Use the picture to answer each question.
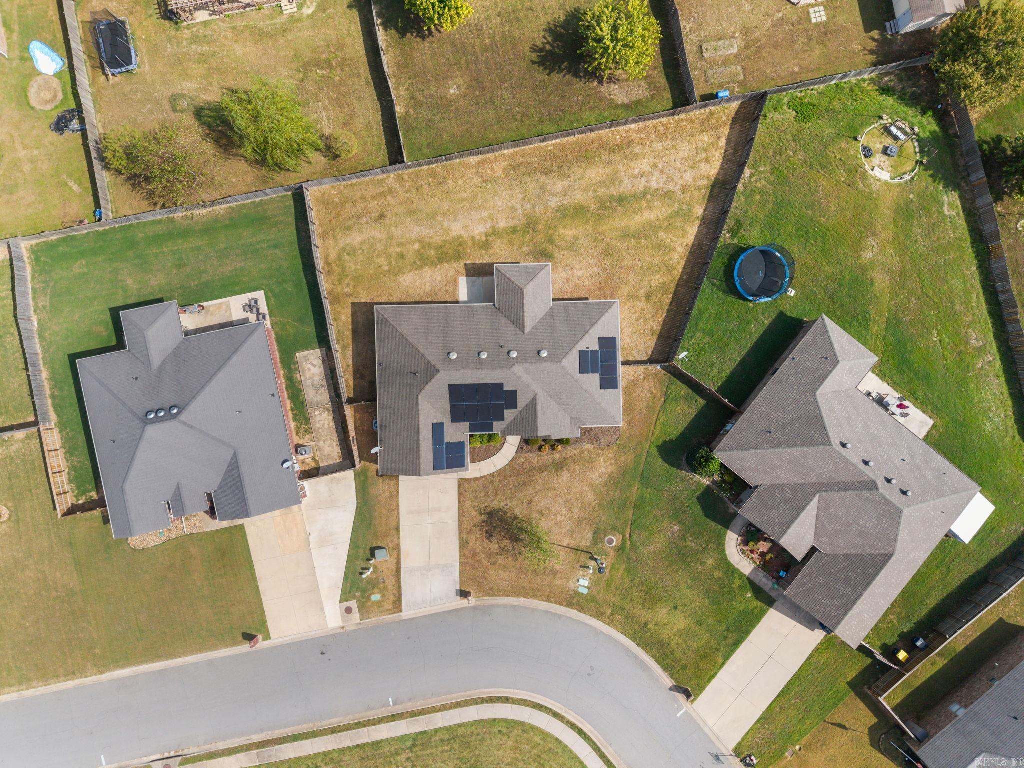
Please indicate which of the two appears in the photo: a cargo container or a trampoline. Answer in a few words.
trampoline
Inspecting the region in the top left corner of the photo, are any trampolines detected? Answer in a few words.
Yes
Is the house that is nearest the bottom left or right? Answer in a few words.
right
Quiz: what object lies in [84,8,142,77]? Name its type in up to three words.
trampoline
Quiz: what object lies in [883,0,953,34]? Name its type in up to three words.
shed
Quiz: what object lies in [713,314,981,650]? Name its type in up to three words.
house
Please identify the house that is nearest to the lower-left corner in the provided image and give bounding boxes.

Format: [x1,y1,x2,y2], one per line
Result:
[76,300,308,539]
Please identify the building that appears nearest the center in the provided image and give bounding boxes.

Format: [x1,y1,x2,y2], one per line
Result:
[374,263,623,476]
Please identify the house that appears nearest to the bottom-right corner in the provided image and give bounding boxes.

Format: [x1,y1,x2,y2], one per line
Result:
[904,634,1024,768]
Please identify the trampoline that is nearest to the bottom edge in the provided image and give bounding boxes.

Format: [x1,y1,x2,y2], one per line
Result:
[730,242,797,305]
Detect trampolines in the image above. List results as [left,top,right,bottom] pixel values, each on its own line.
[84,8,142,77]
[730,242,797,305]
